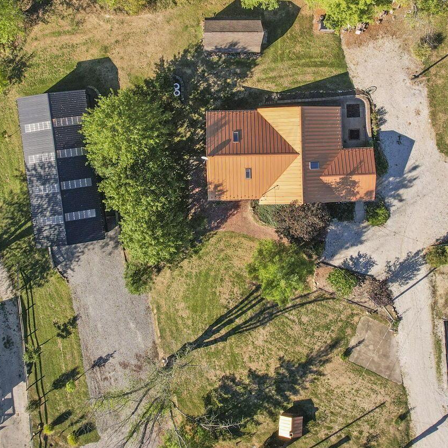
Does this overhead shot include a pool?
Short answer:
No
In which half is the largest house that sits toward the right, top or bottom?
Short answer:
top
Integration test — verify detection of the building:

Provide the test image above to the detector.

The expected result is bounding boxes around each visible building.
[17,89,107,247]
[204,17,263,53]
[278,410,304,440]
[206,105,376,205]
